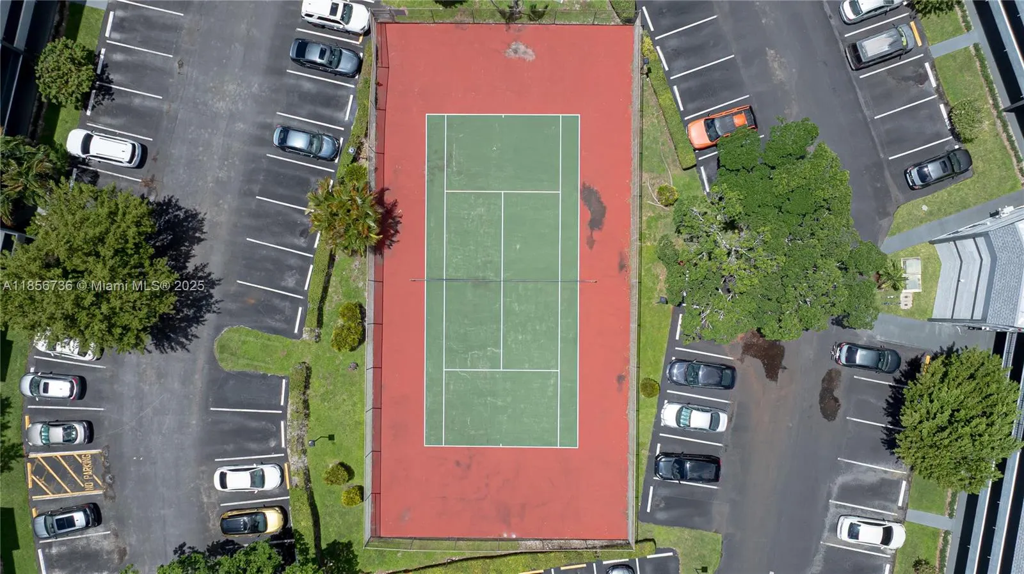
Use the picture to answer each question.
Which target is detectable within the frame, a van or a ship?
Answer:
van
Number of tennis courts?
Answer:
1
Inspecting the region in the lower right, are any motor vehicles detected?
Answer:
Yes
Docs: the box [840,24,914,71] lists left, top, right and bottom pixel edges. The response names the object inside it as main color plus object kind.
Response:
gray van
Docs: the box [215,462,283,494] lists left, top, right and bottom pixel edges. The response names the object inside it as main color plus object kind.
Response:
white car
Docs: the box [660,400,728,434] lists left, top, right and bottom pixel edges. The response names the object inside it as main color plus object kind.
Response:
white car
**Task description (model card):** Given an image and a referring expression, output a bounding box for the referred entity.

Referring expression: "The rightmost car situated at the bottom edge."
[834,514,905,551]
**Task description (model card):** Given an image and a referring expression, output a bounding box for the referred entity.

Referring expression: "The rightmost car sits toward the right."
[901,149,971,189]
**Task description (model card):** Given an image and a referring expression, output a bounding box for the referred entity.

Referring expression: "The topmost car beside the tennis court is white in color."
[299,0,370,34]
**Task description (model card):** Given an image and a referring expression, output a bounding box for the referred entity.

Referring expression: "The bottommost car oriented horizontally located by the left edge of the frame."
[34,501,104,541]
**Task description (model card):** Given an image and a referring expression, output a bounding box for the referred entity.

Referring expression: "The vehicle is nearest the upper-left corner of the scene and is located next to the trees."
[68,128,144,169]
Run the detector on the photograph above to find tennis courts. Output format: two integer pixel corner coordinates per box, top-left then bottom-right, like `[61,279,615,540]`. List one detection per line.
[372,21,634,541]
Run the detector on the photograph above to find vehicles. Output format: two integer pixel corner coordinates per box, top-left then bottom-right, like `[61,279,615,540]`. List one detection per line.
[68,128,144,169]
[273,124,340,162]
[606,562,632,574]
[220,504,285,538]
[291,38,360,77]
[901,149,971,189]
[20,371,84,402]
[833,342,900,375]
[666,358,735,391]
[685,103,761,150]
[834,514,905,551]
[660,400,728,434]
[299,0,370,34]
[654,450,721,486]
[840,24,914,71]
[215,462,283,494]
[835,0,904,24]
[27,419,92,450]
[34,501,104,541]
